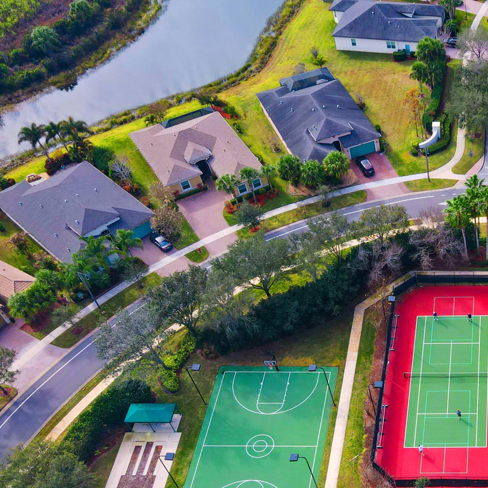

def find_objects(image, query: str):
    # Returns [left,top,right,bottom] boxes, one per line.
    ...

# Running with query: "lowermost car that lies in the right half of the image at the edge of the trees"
[354,156,374,174]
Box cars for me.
[148,230,173,250]
[445,34,465,45]
[354,156,374,174]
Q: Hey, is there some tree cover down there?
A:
Yes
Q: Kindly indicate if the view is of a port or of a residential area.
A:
residential area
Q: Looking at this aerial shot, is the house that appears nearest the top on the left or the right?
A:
right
